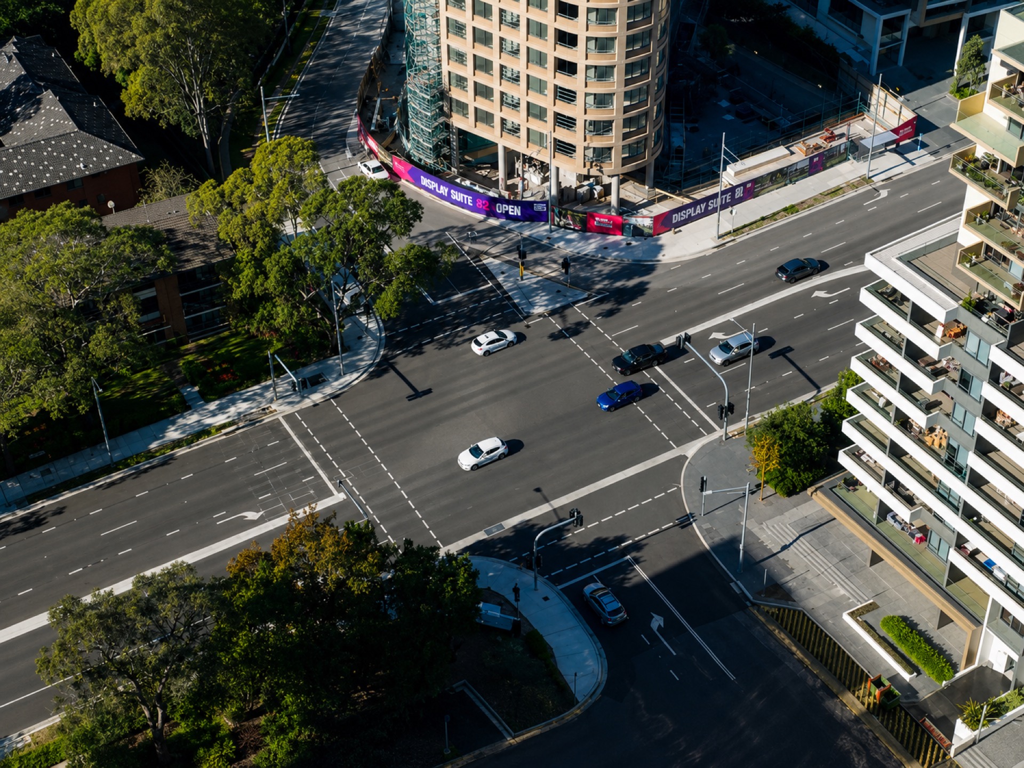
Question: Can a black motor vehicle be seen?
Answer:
Yes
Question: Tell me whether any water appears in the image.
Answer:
No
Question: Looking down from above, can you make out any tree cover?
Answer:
Yes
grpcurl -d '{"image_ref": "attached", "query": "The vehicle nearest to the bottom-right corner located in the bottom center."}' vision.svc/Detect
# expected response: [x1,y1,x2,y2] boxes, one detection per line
[580,581,630,629]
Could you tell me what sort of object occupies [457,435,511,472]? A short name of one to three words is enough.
car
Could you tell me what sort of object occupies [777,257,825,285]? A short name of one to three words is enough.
car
